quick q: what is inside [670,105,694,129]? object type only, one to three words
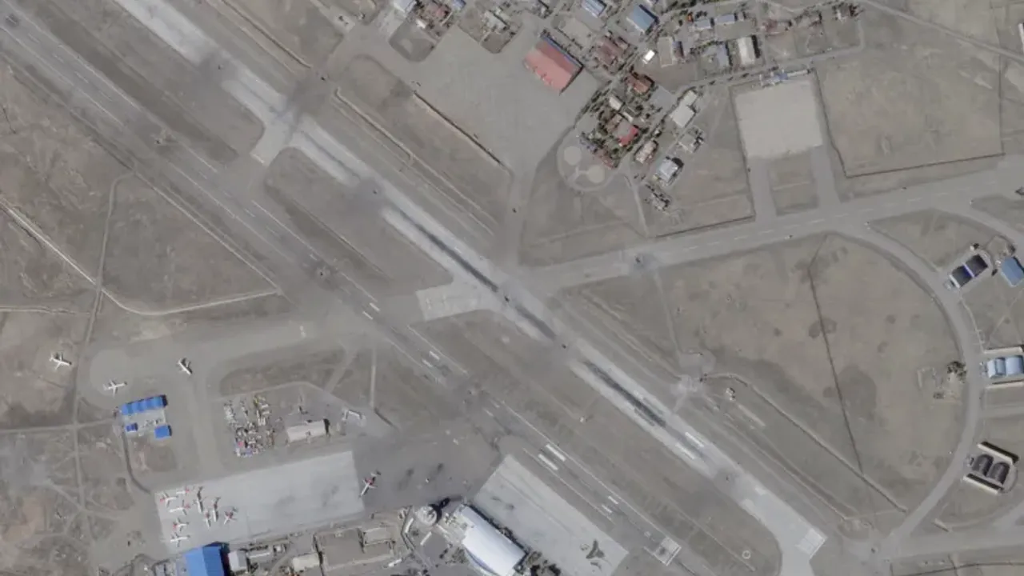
house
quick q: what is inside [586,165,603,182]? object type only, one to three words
helipad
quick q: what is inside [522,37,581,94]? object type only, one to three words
hangar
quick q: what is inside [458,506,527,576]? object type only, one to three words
building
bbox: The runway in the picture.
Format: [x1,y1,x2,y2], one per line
[0,0,685,570]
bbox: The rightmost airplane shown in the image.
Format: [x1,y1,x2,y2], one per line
[362,472,379,497]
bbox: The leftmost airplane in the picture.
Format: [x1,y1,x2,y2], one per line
[48,350,72,371]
